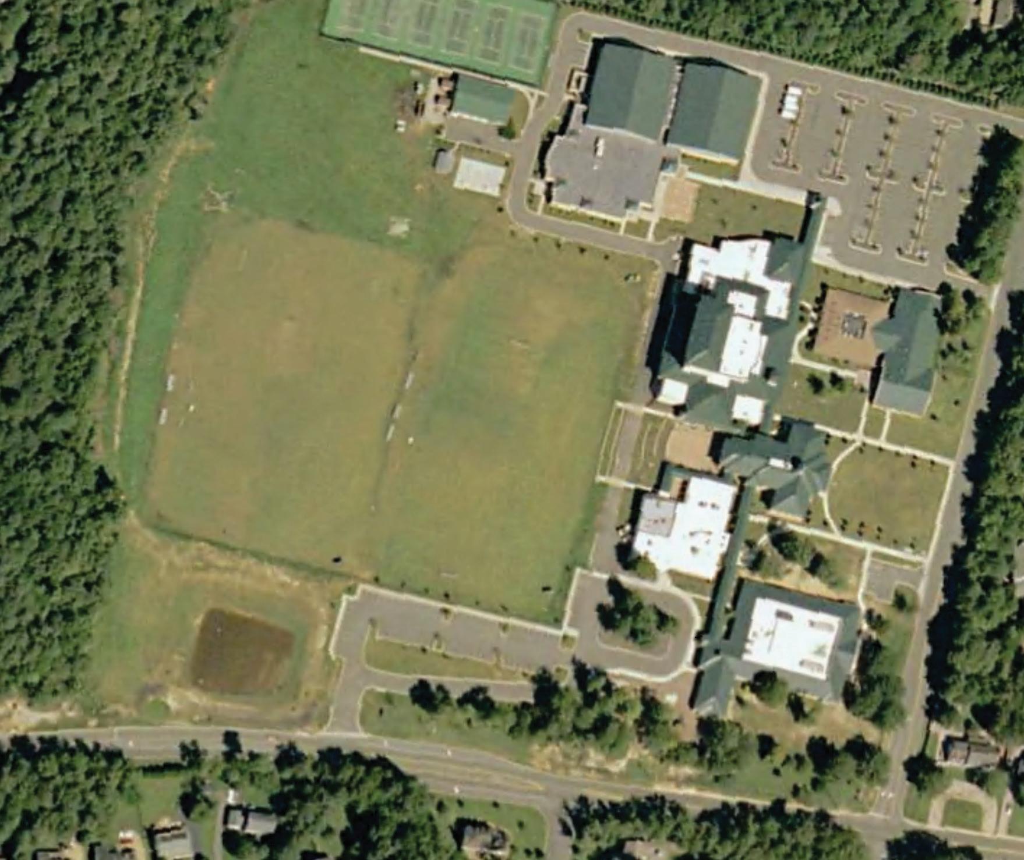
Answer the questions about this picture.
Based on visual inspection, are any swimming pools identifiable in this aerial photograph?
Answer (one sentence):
No, no swimming pool is visible in the view.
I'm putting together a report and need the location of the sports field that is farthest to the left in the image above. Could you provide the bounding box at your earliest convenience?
[145,214,423,573]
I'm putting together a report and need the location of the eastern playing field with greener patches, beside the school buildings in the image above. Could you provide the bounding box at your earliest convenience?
[372,234,649,617]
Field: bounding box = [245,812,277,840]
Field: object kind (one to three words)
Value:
house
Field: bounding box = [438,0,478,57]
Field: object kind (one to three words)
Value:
tennis court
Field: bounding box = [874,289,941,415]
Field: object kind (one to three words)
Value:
building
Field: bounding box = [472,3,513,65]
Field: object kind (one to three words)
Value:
tennis court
